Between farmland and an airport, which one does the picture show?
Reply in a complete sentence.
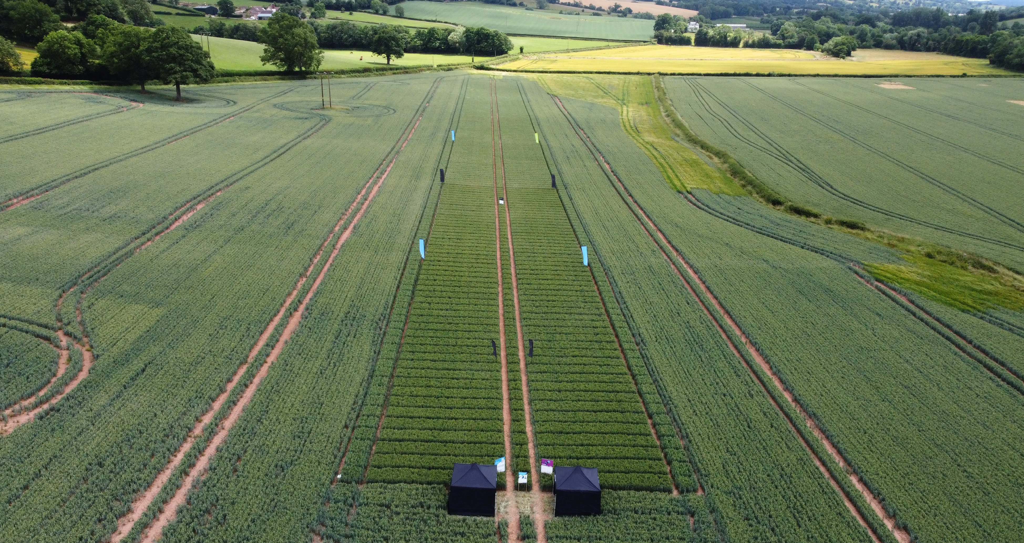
It's farmland.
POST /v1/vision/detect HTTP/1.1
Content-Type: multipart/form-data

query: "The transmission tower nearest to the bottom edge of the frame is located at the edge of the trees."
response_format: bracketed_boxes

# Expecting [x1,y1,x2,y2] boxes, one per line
[316,72,333,107]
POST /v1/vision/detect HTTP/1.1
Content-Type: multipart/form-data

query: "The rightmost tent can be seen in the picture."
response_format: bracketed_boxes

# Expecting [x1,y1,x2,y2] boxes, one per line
[549,462,604,520]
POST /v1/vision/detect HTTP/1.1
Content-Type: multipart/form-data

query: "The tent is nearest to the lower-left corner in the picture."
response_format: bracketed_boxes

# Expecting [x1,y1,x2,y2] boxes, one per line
[448,460,504,518]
